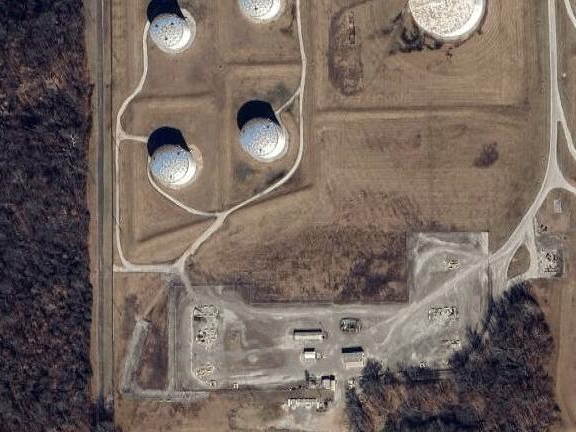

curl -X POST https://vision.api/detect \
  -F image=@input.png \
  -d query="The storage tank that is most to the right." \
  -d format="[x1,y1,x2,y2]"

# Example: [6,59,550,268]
[408,0,485,41]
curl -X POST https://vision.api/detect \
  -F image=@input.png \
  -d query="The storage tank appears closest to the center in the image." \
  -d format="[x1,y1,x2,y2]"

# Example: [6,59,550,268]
[240,118,284,160]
